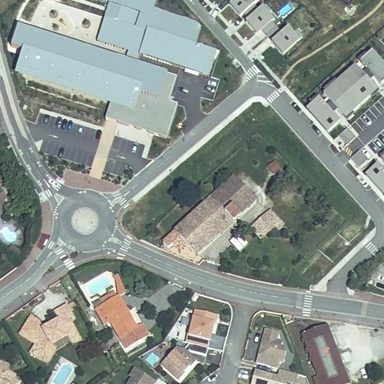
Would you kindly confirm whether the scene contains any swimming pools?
Yes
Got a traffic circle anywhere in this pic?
Yes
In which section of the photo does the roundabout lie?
left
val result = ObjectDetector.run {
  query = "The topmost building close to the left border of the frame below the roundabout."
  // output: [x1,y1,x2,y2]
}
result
[18,302,83,364]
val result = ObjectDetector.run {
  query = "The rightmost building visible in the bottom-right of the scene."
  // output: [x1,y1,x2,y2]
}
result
[300,322,351,384]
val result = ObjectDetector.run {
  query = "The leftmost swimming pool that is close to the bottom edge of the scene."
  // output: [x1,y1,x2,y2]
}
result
[51,360,74,384]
